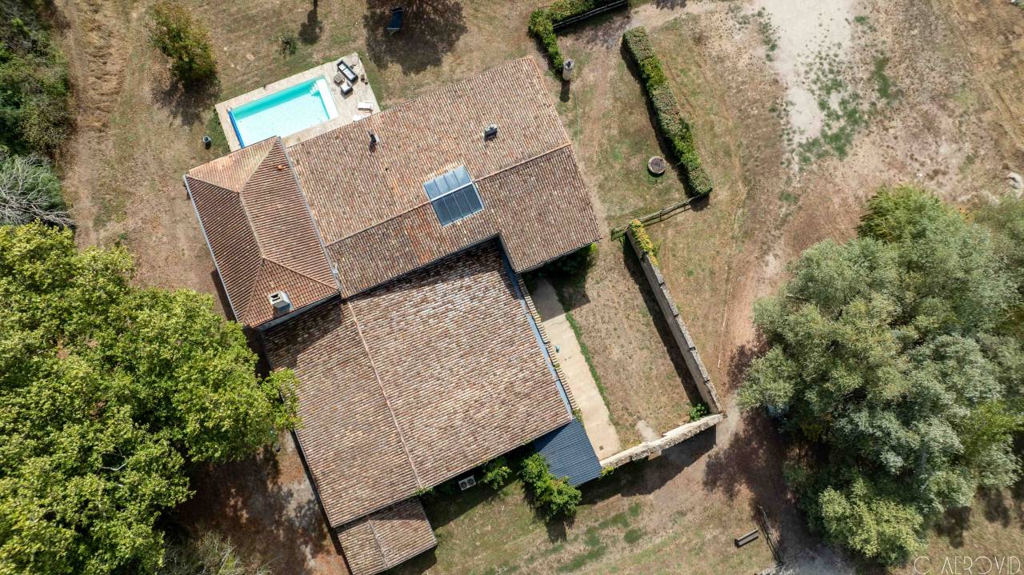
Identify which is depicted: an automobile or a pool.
pool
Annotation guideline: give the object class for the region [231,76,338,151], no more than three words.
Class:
swimming pool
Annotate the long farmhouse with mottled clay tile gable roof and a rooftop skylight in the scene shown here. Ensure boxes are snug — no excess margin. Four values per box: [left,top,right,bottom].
[288,55,602,299]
